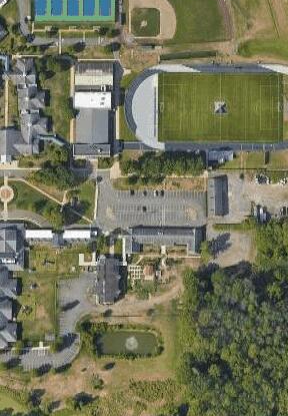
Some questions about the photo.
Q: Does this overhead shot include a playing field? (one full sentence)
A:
Yes, the frame does contain a playing field.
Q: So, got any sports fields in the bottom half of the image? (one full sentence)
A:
No, I see no sports field in the bottom half of the image.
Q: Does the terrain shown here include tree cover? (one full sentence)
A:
Yes, tree cover shows up in the scene.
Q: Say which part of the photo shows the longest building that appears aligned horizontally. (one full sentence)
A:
The longest building that appears aligned horizontally is in the center part of the image.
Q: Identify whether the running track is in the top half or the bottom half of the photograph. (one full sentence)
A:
Seen from above, the running track lies in the top half of the view.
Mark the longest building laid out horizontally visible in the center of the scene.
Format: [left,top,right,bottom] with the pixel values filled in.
[123,226,207,253]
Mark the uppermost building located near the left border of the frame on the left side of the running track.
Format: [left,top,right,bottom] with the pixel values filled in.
[0,60,48,163]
